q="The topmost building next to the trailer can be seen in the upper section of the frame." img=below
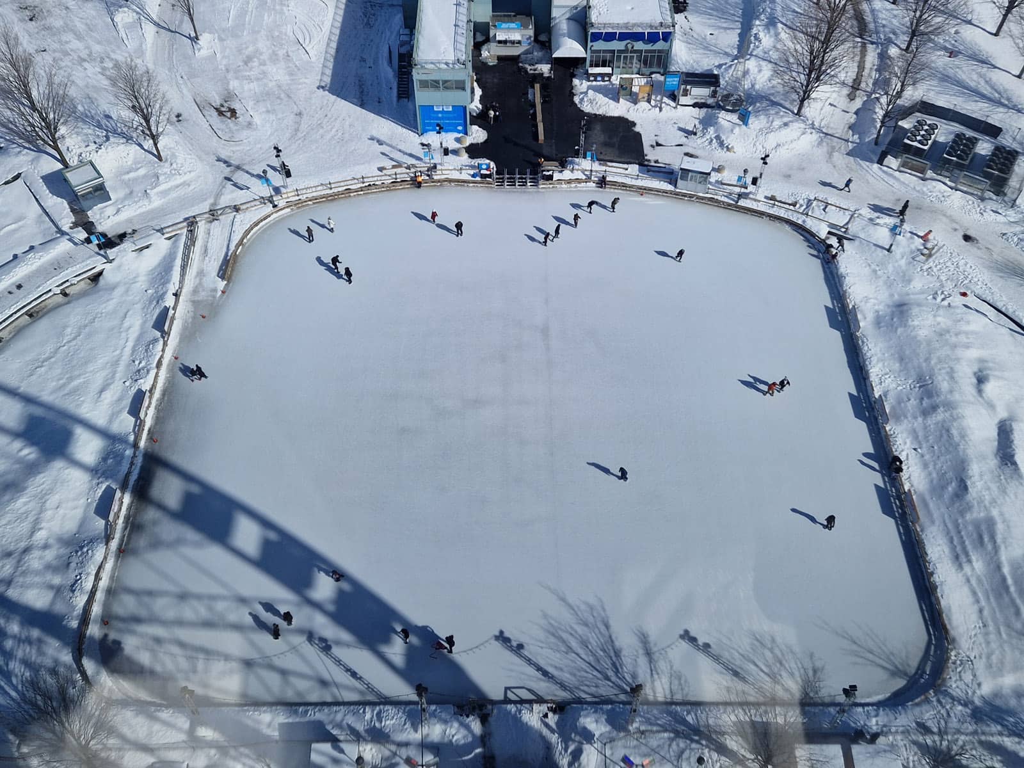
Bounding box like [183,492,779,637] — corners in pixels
[584,0,673,73]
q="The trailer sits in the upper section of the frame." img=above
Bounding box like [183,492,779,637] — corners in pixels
[680,63,722,104]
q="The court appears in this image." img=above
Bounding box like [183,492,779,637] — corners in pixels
[99,182,939,704]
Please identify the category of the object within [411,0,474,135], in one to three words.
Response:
building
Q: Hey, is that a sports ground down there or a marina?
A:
sports ground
